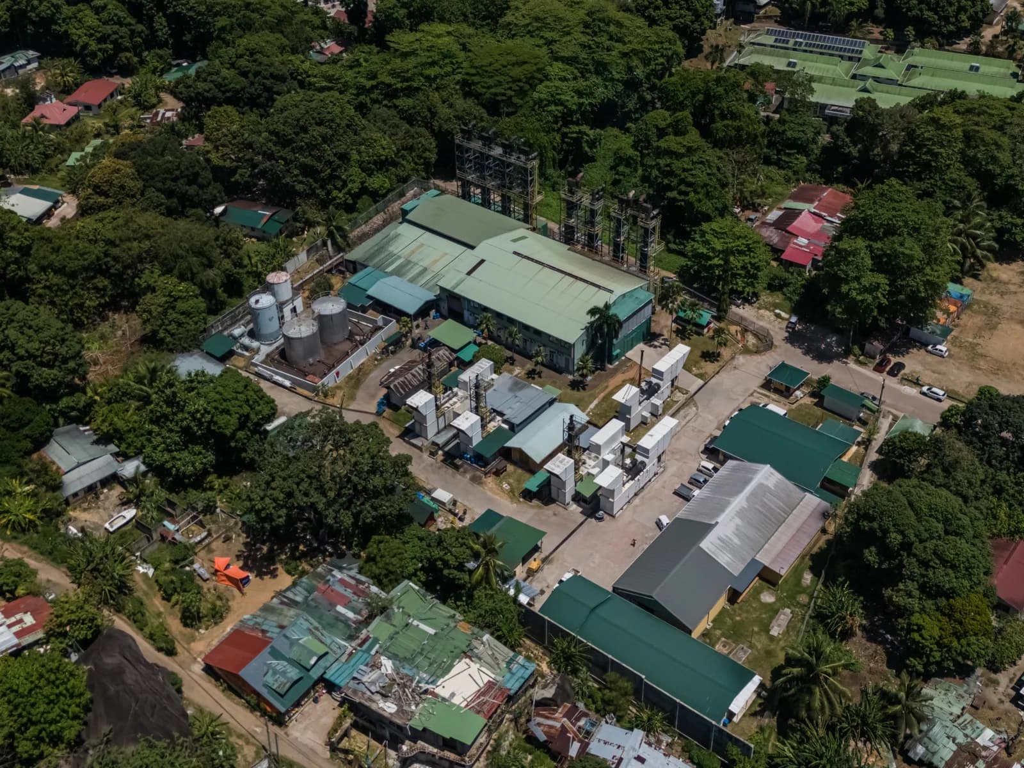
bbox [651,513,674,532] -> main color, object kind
white car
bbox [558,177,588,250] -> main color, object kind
black chimney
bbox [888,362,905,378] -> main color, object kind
black car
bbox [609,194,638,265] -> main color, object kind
black chimney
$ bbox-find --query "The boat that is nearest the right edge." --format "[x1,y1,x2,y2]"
[186,529,210,545]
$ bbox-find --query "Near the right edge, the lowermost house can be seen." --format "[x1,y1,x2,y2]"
[902,712,1016,768]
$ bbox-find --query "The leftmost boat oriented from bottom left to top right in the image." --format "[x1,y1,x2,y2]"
[100,507,138,534]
